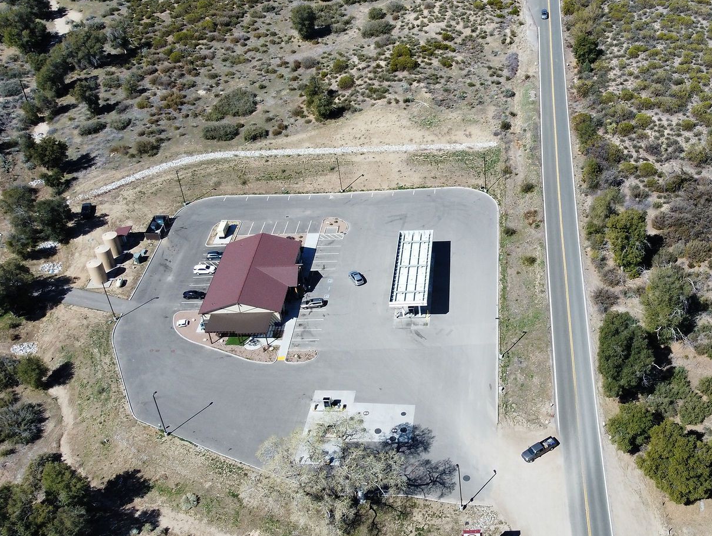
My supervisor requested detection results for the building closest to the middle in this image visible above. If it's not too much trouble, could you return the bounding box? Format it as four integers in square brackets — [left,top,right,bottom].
[197,233,304,344]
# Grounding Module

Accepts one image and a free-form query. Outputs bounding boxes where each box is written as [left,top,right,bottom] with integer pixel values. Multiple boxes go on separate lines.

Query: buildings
[116,225,134,244]
[197,233,304,344]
